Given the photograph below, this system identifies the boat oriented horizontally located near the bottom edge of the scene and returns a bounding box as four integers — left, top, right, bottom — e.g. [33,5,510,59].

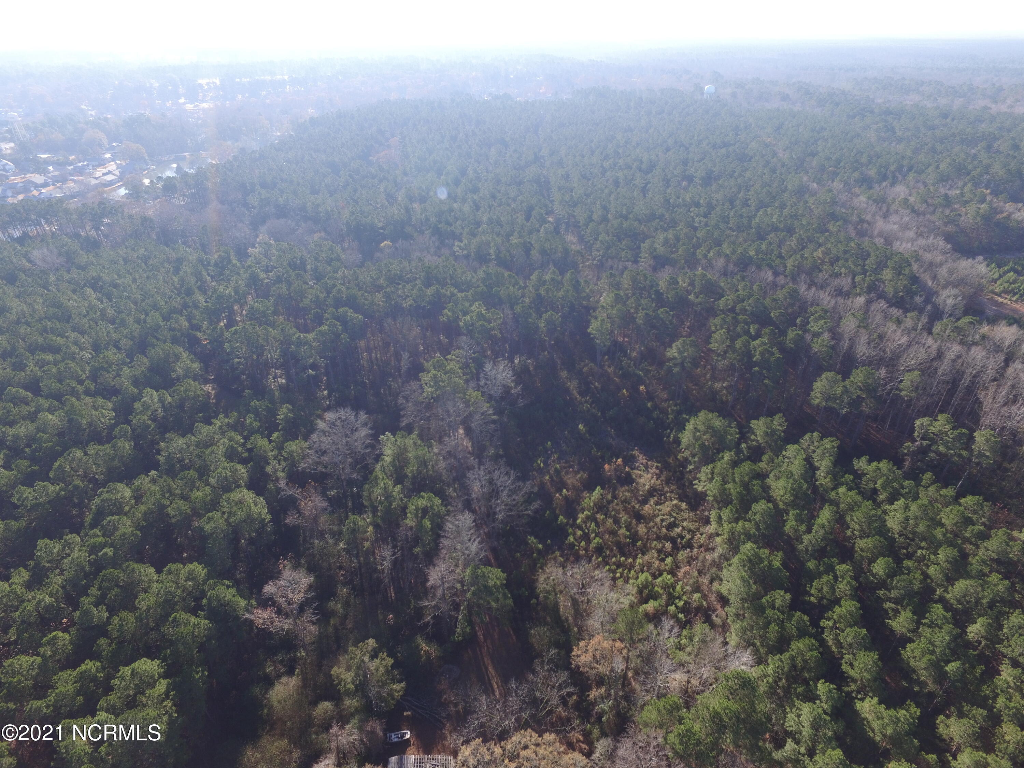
[386,730,411,742]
